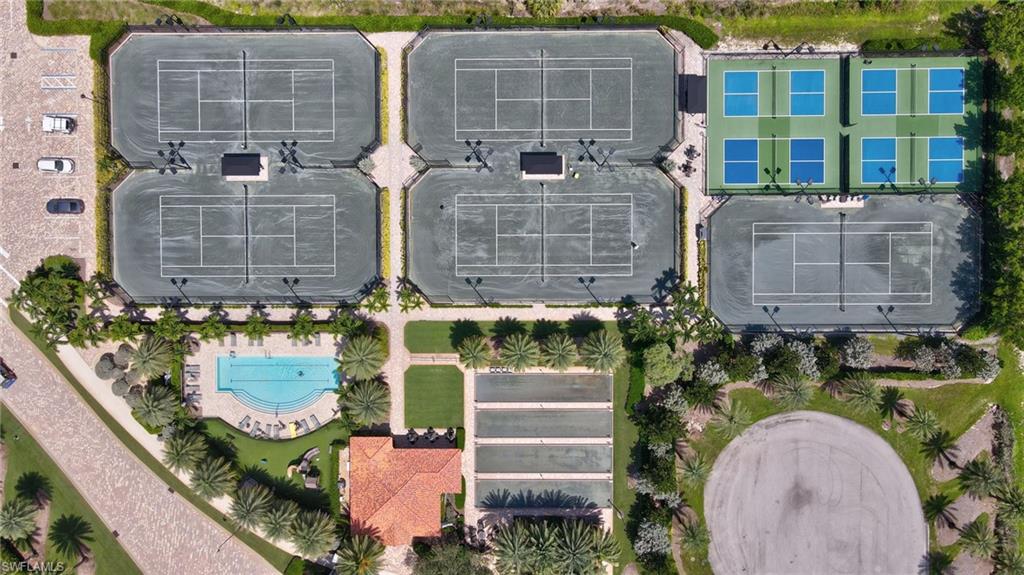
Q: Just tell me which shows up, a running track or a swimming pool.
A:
swimming pool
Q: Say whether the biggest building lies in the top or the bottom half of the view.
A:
bottom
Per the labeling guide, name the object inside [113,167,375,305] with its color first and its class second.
gray tennis court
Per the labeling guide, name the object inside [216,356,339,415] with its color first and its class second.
blue swimming pool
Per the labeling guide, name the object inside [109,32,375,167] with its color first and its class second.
gray tennis court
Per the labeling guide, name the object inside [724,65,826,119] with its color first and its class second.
blue sports court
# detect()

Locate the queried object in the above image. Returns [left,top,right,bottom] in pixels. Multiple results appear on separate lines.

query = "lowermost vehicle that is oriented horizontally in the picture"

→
[47,198,85,214]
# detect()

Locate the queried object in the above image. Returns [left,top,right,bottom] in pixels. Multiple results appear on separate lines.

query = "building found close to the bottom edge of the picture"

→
[350,436,461,548]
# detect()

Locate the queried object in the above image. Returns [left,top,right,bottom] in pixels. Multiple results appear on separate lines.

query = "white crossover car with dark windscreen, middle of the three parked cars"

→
[37,156,76,173]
